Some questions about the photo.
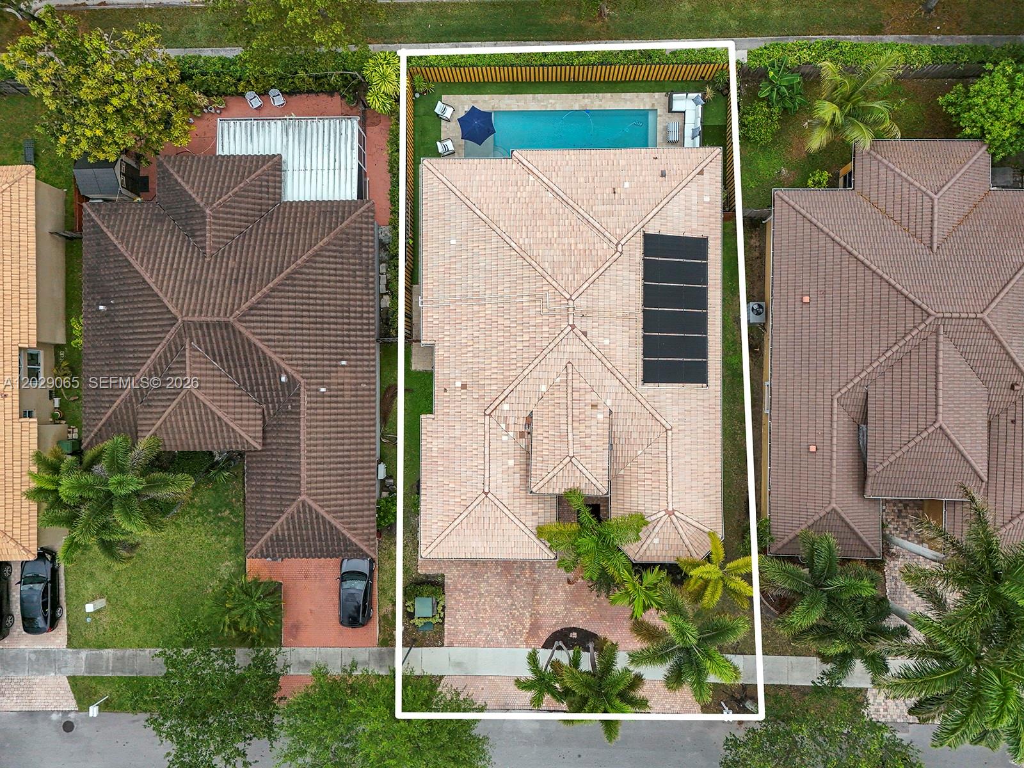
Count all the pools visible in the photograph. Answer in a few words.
1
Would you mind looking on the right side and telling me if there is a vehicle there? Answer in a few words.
No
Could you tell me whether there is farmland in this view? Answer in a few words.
No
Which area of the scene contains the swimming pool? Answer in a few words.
top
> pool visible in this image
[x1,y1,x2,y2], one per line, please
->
[462,106,660,157]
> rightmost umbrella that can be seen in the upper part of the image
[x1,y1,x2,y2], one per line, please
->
[457,106,496,146]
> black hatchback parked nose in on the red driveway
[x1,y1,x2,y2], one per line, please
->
[330,559,372,637]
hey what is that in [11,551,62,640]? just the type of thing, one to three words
car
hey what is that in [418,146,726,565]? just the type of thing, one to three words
house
